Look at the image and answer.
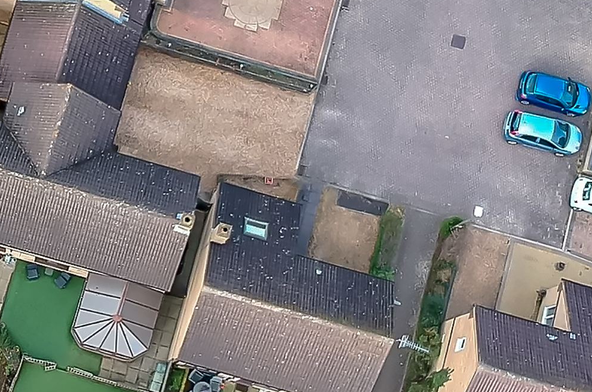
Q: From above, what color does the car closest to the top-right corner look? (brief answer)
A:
blue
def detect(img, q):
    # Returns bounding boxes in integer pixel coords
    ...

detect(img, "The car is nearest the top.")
[513,71,592,118]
